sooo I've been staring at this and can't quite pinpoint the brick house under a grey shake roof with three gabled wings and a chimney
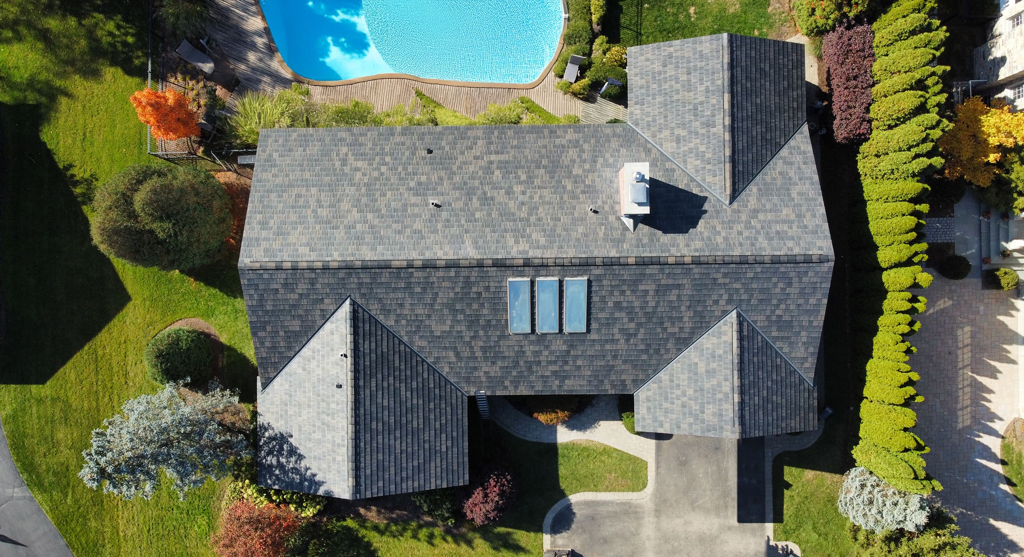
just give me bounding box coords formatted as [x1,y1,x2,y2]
[237,32,836,500]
